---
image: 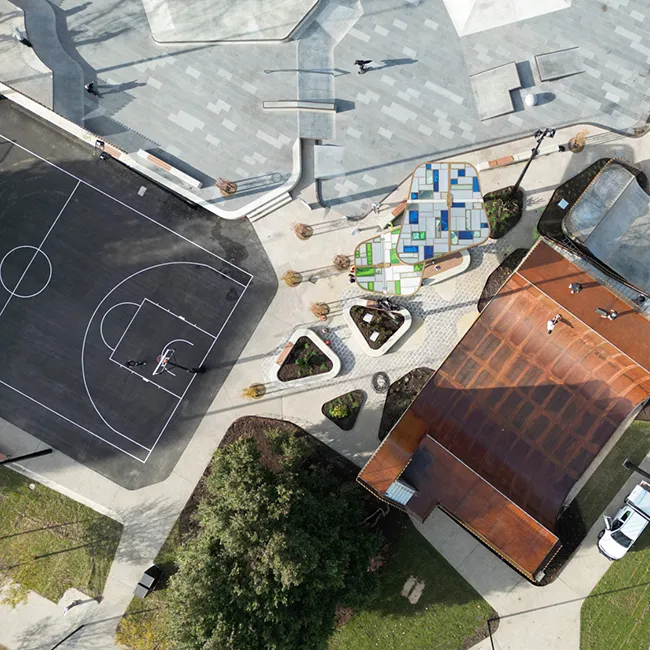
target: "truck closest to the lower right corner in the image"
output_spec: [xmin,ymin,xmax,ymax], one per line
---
[598,474,650,562]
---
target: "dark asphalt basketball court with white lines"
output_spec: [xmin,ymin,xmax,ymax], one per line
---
[0,98,279,490]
